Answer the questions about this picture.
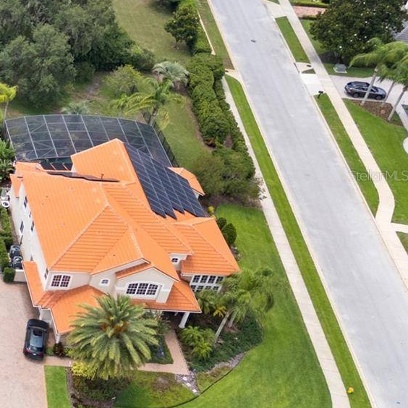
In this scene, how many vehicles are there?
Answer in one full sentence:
I count 2 vehicles.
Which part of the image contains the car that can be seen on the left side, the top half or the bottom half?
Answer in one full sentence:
You can find the car that can be seen on the left side in the bottom half.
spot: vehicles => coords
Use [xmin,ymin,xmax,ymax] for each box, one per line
[342,76,387,97]
[24,318,52,362]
